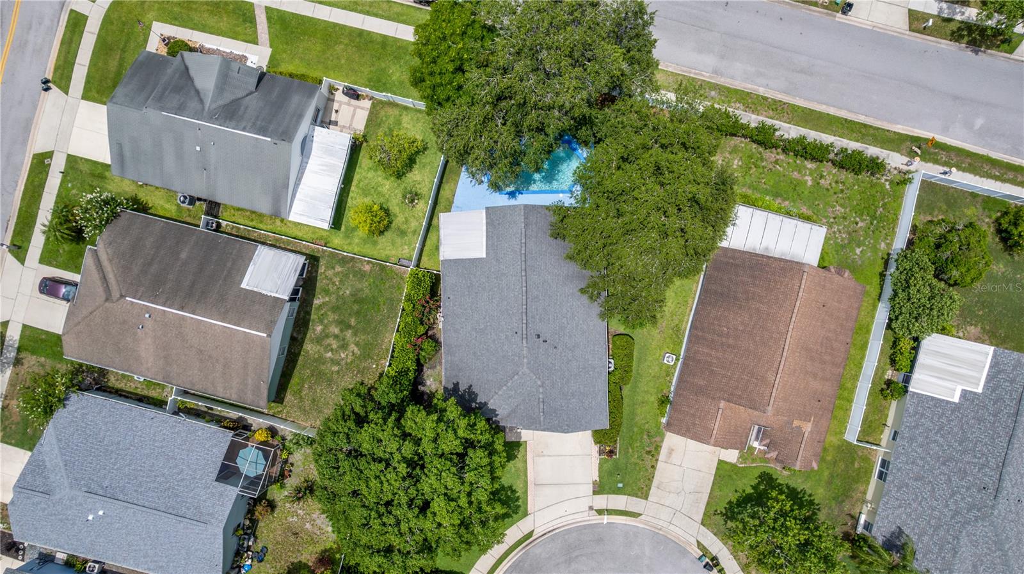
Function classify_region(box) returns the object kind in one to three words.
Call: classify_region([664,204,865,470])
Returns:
house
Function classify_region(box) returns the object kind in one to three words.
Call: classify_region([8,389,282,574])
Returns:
house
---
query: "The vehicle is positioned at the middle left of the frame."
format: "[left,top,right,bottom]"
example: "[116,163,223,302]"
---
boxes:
[37,277,79,307]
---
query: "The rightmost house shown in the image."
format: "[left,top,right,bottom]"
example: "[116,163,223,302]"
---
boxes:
[860,333,1024,574]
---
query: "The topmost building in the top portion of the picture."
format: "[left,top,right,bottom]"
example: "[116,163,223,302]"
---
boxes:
[106,50,355,228]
